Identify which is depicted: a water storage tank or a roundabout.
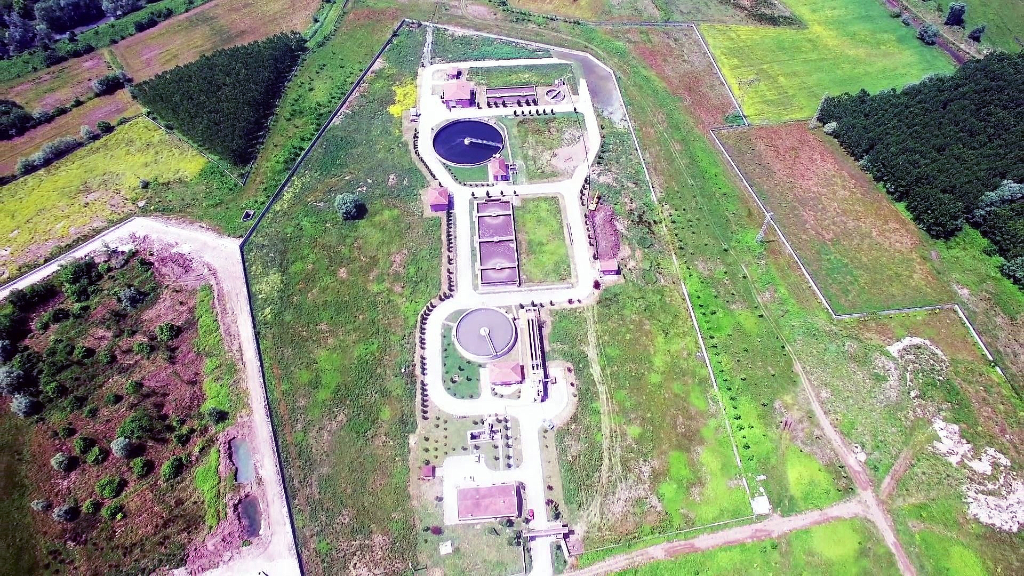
water storage tank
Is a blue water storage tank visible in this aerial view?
Yes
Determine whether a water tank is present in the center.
Yes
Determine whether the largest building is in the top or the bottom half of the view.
bottom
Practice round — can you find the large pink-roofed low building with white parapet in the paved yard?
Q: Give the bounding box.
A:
[458,481,517,525]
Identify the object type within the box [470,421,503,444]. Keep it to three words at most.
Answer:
building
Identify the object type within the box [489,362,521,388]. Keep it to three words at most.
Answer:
house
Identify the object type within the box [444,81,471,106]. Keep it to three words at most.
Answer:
building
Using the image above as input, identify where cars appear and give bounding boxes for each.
[474,453,480,465]
[543,419,555,430]
[528,509,534,520]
